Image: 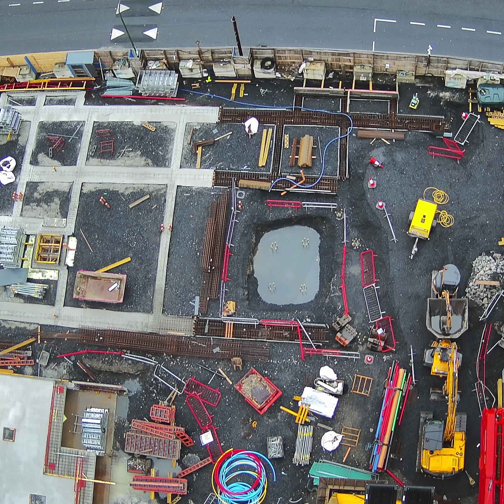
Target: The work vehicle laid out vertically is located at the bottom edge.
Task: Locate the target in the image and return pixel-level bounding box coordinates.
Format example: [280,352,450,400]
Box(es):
[414,348,470,480]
